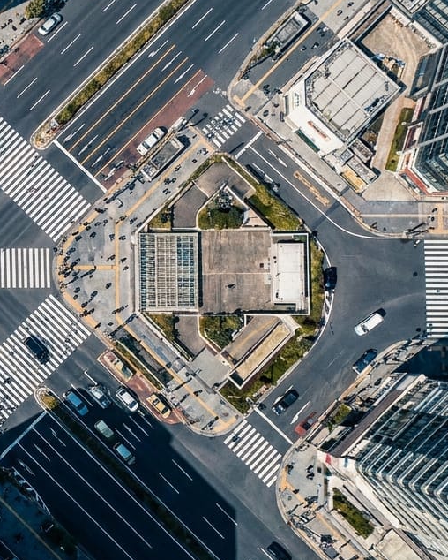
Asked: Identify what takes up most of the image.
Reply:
paved ground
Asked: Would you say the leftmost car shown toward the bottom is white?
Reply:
No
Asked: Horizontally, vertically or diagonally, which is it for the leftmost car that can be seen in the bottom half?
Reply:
diagonally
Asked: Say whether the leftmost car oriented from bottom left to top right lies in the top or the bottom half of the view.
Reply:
top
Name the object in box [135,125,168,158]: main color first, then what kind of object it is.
white van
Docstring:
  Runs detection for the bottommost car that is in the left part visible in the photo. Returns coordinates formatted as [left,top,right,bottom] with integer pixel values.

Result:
[111,440,136,466]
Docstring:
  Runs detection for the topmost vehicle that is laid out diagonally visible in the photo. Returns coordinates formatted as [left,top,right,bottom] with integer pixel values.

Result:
[36,11,64,40]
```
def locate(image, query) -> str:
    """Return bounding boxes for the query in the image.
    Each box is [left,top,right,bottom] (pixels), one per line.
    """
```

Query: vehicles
[293,411,318,437]
[263,537,294,560]
[91,418,115,443]
[350,348,378,375]
[114,383,140,413]
[21,333,52,365]
[352,307,388,337]
[324,266,337,291]
[102,349,133,381]
[36,11,64,40]
[143,392,171,420]
[416,240,424,248]
[135,125,168,158]
[270,387,299,414]
[85,380,113,409]
[60,388,90,419]
[111,440,136,466]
